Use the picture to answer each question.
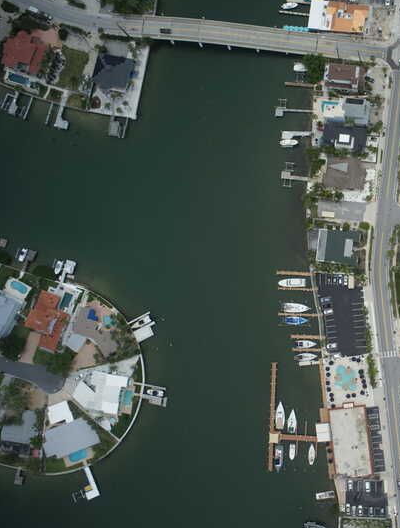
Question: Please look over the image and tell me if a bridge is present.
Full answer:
Yes, looking at the shot, I can spot a bridge.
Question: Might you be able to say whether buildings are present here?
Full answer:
Yes, a building appears in the view.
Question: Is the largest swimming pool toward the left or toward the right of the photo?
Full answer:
It is on the right.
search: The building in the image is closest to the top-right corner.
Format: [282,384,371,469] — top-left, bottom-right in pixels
[308,0,371,36]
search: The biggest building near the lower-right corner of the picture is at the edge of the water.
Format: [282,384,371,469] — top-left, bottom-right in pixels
[329,403,372,477]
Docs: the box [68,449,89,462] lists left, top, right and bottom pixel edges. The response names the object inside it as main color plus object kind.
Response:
blue swimming pool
